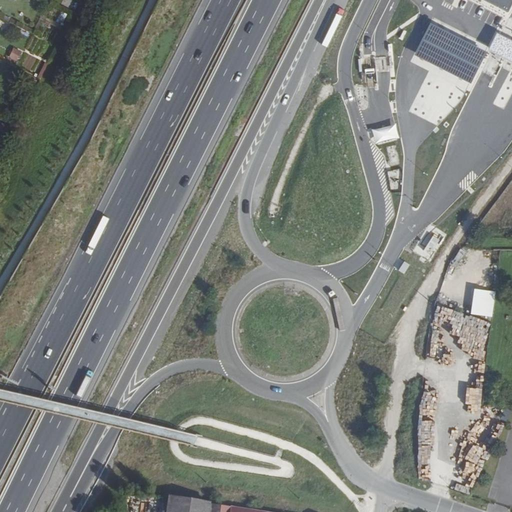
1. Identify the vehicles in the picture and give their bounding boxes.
[44,347,52,358]
[91,332,100,344]
[459,0,468,10]
[346,88,354,101]
[204,10,213,22]
[180,175,190,188]
[70,371,94,408]
[244,20,254,34]
[322,7,344,47]
[365,36,370,46]
[270,386,282,392]
[281,94,290,106]
[326,290,343,330]
[234,70,242,82]
[476,5,484,16]
[194,48,204,61]
[422,2,433,10]
[243,200,248,212]
[494,14,504,27]
[166,90,174,102]
[84,216,109,256]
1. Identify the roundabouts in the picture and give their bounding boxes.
[217,264,352,398]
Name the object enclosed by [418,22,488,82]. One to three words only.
building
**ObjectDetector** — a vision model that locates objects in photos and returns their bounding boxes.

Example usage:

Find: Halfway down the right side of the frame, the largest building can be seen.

[472,289,496,318]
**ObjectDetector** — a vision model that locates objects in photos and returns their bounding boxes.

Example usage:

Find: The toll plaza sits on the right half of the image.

[358,44,396,112]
